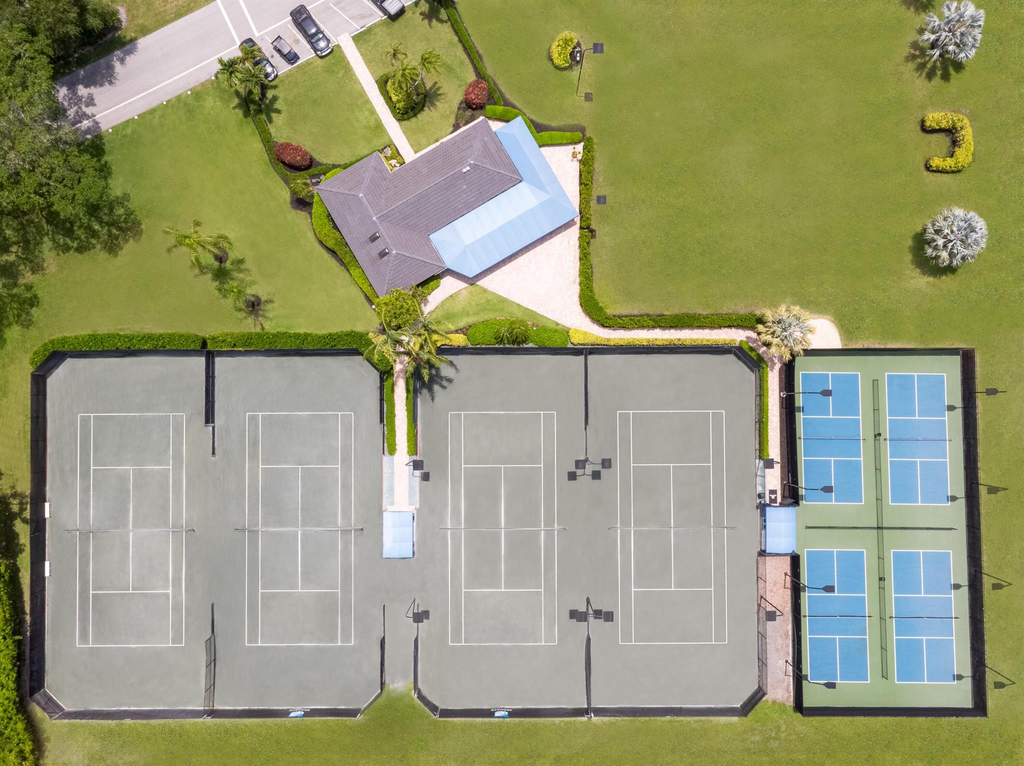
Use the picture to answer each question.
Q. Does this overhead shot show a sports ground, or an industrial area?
sports ground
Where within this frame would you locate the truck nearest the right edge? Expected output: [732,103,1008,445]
[375,0,405,21]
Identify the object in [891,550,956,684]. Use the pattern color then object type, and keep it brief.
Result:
blue sports court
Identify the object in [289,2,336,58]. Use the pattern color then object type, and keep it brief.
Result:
gray truck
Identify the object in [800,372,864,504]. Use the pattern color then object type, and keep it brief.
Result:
blue sports court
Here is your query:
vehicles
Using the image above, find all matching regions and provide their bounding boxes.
[375,0,405,21]
[239,36,280,82]
[272,36,301,67]
[289,2,336,58]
